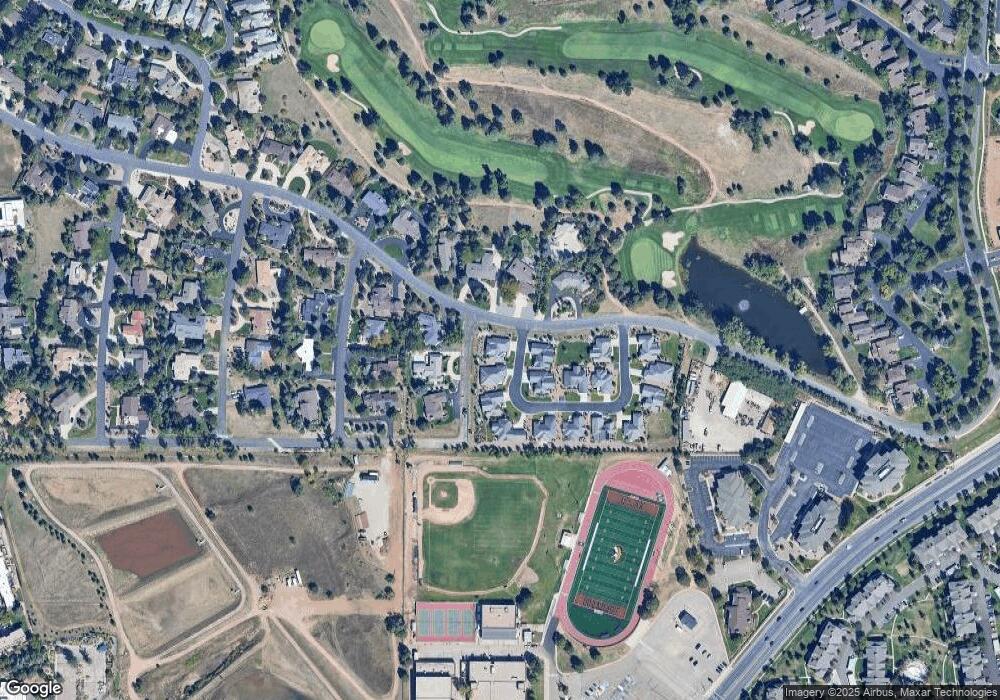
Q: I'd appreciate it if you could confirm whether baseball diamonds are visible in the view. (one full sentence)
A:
Yes, a baseball diamond can be made out from above.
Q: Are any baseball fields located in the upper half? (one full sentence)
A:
No, the scene shows no baseball field in the upper half.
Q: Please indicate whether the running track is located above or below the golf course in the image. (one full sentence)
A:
In the image, the running track sits below the golf course.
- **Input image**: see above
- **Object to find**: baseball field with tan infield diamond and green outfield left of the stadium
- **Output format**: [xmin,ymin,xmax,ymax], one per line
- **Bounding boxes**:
[418,462,547,594]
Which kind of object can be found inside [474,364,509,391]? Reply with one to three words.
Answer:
house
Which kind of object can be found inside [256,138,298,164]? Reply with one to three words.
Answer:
house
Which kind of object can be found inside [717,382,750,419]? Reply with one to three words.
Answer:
shed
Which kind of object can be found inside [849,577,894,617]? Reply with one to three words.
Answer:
building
